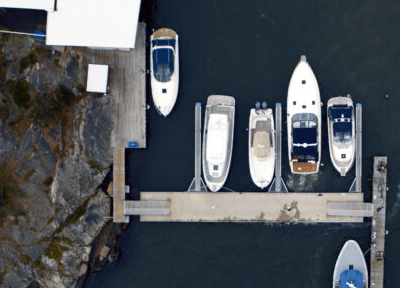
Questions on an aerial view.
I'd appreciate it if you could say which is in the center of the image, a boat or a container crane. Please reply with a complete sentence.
It is a boat that can be seen in the center of the image.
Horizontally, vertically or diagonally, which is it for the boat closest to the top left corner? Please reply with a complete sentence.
The boat closest to the top left corner is oriented vertically.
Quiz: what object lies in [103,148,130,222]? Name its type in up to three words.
pier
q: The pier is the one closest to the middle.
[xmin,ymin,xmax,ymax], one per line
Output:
[189,104,208,192]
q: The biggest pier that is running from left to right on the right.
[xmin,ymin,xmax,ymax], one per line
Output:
[140,192,363,223]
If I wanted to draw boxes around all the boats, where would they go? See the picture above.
[287,55,321,175]
[203,95,235,192]
[333,239,369,288]
[327,93,355,177]
[151,28,179,115]
[249,101,275,190]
